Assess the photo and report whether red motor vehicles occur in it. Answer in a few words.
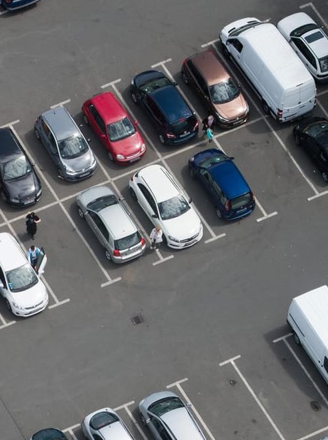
Yes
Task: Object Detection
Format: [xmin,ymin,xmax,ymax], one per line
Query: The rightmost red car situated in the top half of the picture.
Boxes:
[82,92,146,167]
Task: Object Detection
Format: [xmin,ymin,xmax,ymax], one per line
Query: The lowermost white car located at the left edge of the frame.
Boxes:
[0,231,49,318]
